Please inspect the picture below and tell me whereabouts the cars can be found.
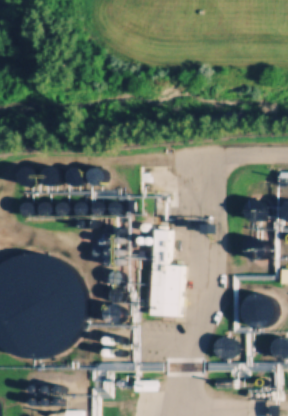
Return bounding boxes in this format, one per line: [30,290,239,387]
[222,275,227,288]
[215,312,223,325]
[177,324,186,334]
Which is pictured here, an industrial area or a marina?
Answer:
industrial area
